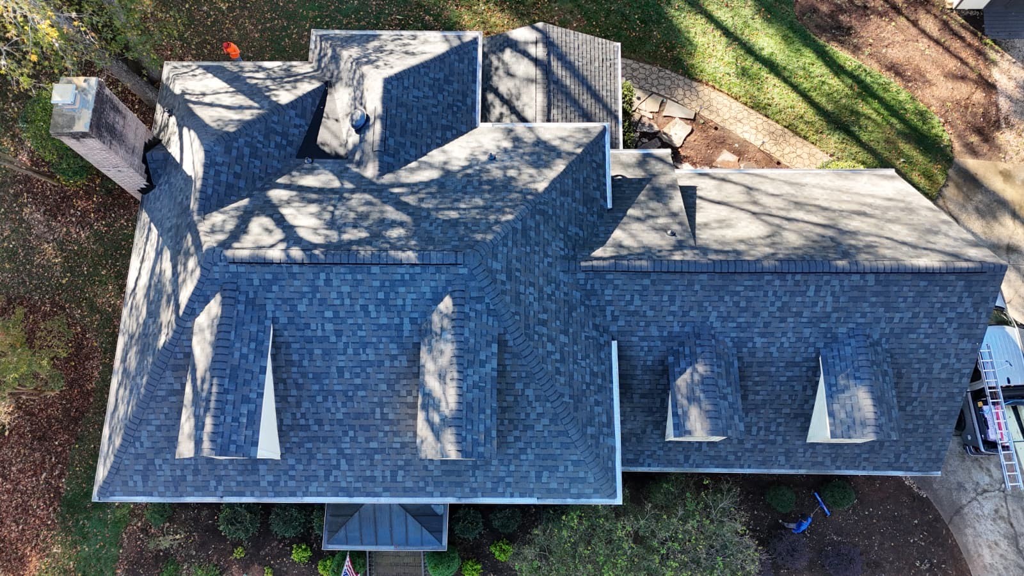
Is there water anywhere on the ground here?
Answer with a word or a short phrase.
No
